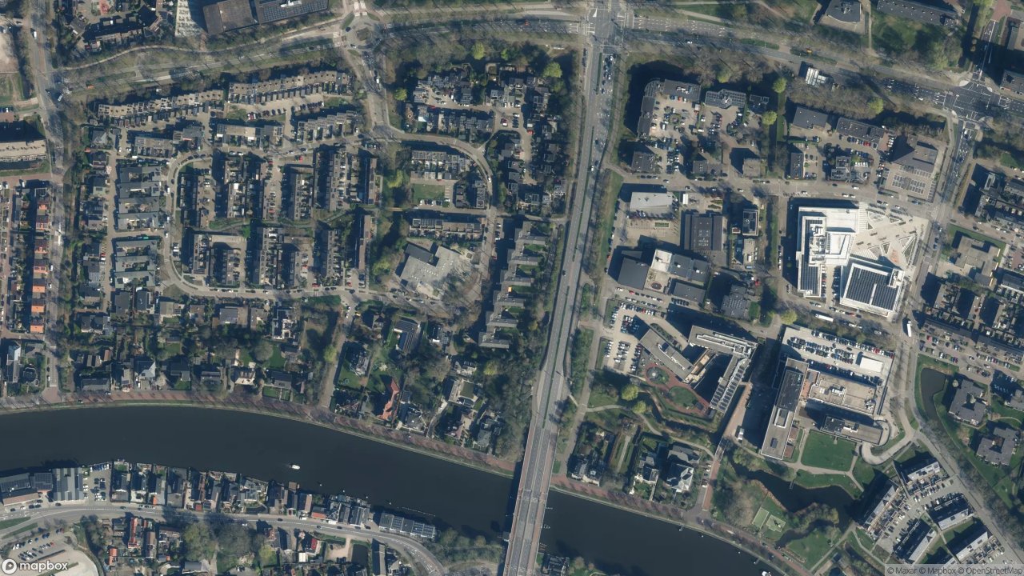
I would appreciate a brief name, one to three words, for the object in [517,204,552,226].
house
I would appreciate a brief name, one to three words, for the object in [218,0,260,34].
building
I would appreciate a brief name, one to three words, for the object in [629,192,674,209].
building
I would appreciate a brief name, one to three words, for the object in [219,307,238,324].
house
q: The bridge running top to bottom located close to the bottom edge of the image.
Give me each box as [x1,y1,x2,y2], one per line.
[503,470,555,576]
